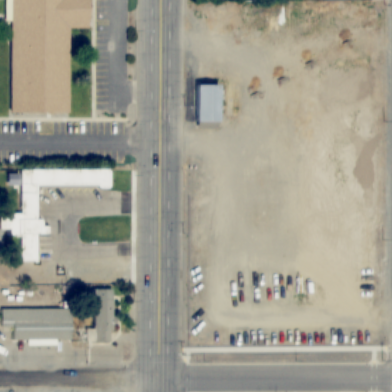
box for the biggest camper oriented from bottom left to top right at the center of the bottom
[186,320,208,337]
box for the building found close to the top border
[9,0,92,114]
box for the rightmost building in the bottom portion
[92,288,113,342]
